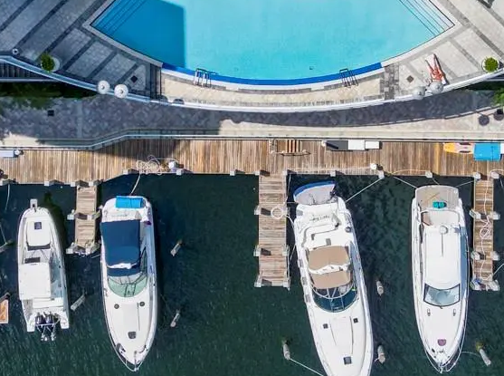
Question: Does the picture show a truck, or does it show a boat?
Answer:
boat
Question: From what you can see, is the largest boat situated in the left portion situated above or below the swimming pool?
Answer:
below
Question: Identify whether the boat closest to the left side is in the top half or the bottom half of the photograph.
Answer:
bottom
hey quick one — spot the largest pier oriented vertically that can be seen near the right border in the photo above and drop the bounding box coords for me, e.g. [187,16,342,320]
[465,177,502,291]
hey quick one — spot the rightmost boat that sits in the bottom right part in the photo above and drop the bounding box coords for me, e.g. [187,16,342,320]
[407,186,471,375]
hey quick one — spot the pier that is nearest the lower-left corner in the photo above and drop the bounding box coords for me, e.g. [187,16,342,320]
[66,184,104,255]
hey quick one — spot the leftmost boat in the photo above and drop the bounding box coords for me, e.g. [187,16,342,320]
[18,197,73,339]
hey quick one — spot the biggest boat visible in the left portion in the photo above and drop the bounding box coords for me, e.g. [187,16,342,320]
[100,195,163,374]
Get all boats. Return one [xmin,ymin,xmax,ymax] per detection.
[407,186,471,375]
[292,195,378,376]
[100,195,163,374]
[18,197,73,339]
[291,180,337,204]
